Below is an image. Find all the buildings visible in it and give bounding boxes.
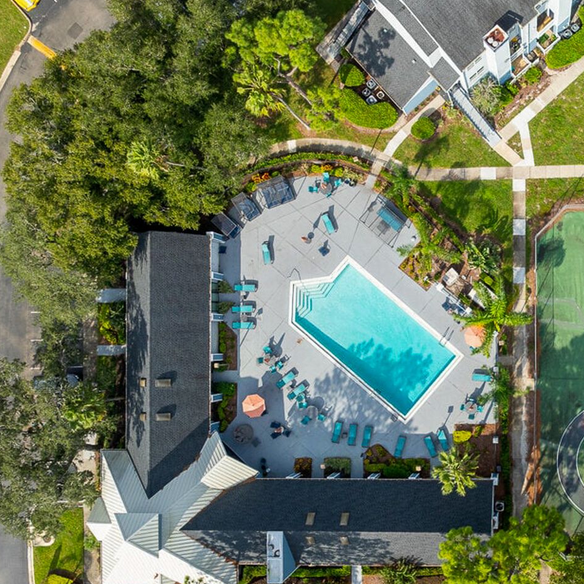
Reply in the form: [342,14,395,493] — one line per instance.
[87,230,494,584]
[346,0,584,115]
